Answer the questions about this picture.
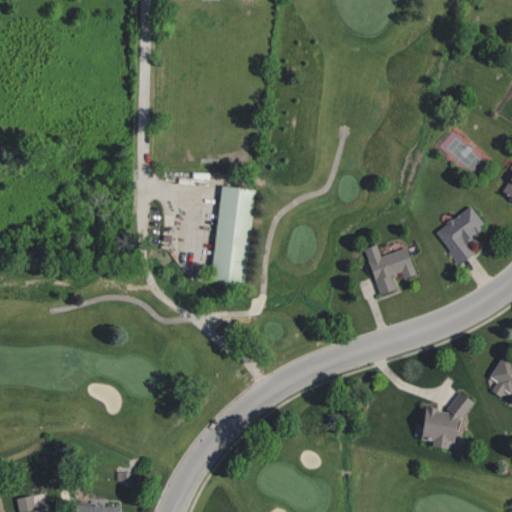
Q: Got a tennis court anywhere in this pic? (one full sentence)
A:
Yes, there's a tennis court here.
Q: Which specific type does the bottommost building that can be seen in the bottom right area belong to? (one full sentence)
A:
From above, the bottommost building that can be seen in the bottom right area can be identified as a house.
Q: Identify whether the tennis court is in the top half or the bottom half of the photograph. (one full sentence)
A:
The tennis court is in the top half of the image.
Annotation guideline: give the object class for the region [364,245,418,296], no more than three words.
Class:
house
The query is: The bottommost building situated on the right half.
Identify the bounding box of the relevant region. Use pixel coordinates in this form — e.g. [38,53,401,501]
[422,393,474,450]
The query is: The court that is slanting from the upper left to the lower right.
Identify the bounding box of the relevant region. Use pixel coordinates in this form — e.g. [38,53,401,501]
[441,132,484,170]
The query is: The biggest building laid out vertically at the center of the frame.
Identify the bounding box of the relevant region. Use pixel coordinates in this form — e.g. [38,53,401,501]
[212,186,256,282]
